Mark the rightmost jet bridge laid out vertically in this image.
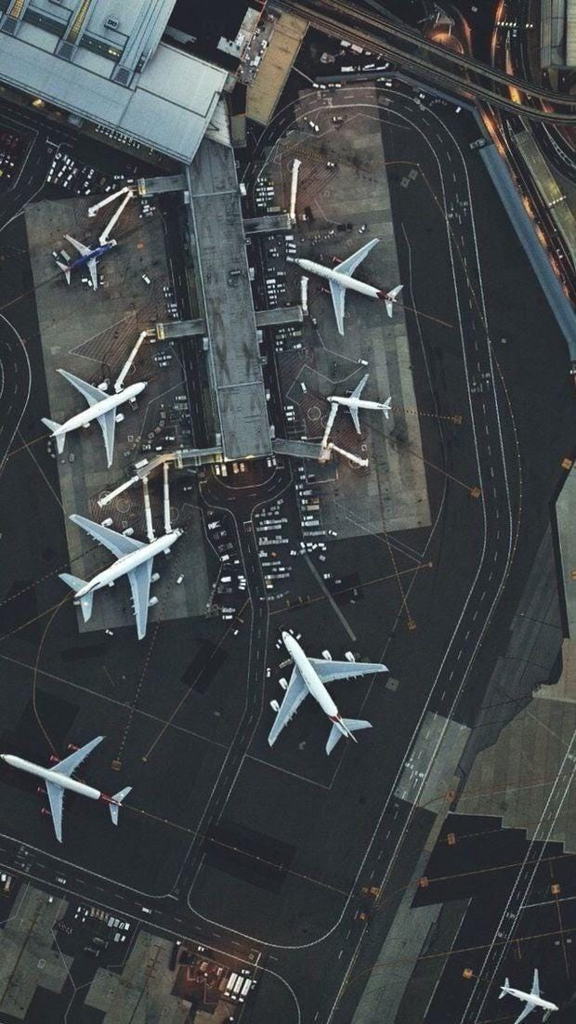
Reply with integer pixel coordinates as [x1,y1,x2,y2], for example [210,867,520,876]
[324,398,338,441]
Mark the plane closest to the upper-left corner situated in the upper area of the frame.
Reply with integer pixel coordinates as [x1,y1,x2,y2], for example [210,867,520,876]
[56,235,117,294]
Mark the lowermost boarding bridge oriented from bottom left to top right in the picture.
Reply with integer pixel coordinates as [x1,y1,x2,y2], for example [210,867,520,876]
[93,472,142,509]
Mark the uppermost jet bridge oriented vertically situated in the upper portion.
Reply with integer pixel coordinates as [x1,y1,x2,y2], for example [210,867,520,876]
[289,153,303,225]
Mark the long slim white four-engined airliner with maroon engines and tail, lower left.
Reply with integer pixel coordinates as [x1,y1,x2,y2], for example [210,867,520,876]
[1,736,133,845]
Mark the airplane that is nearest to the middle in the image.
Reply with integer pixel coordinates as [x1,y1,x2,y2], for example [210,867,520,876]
[328,373,391,436]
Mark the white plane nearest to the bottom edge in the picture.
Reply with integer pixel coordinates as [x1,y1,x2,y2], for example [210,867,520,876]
[498,967,558,1024]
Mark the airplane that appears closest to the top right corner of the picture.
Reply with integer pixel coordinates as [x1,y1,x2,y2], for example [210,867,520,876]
[294,237,405,336]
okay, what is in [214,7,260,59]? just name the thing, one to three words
building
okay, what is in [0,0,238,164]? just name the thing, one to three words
building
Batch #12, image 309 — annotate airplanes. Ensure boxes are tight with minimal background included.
[56,235,117,294]
[294,237,405,336]
[328,373,391,436]
[270,631,392,757]
[57,514,183,642]
[40,369,147,468]
[1,736,133,845]
[498,967,558,1024]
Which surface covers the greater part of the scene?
paved ground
